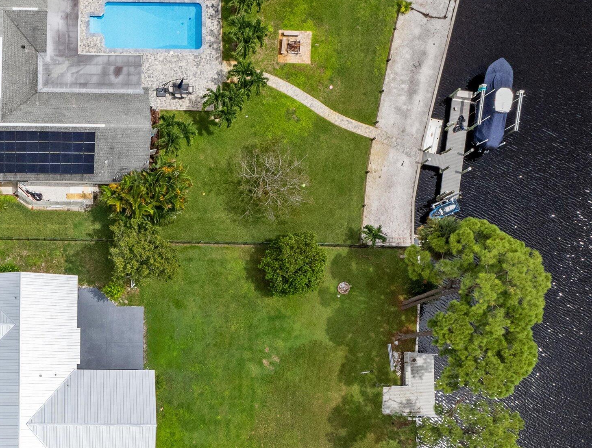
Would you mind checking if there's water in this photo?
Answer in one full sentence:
Yes, there is water in the image.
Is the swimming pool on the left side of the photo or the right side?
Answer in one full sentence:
It is on the left.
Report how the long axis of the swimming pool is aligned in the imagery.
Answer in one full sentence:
What the image shows is the swimming pool lying from left to right.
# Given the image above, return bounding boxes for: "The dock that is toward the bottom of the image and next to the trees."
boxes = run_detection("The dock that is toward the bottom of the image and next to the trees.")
[382,351,445,417]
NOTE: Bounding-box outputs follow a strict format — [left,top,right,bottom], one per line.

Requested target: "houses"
[0,270,157,448]
[0,0,152,185]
